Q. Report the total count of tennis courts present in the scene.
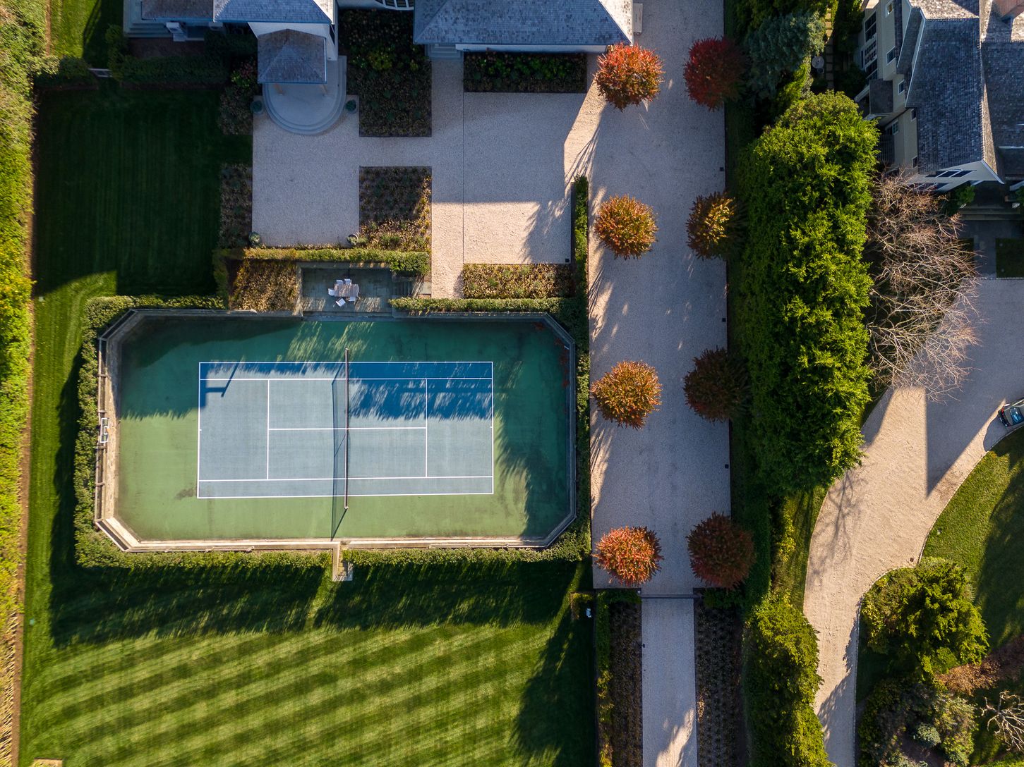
1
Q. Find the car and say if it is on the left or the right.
right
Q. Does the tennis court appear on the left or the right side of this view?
left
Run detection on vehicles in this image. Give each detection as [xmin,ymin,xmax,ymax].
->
[1000,394,1024,426]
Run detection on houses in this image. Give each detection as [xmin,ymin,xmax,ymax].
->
[852,0,1024,226]
[139,0,634,94]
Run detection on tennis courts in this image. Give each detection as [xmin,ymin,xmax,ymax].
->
[119,320,566,542]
